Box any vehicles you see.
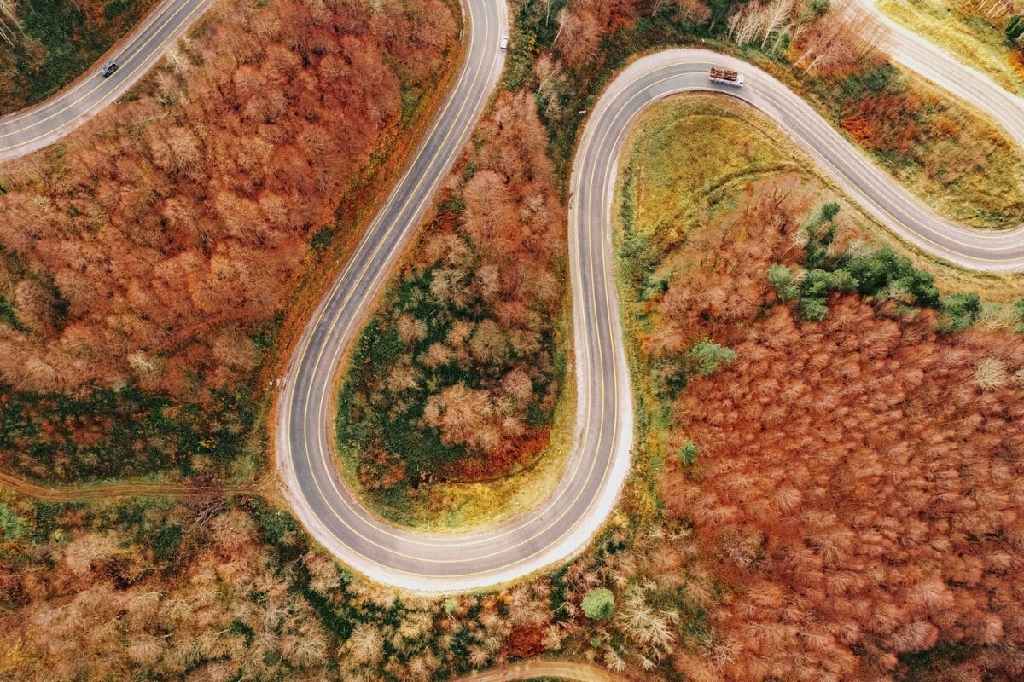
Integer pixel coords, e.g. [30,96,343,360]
[500,36,508,50]
[101,60,118,76]
[709,69,744,87]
